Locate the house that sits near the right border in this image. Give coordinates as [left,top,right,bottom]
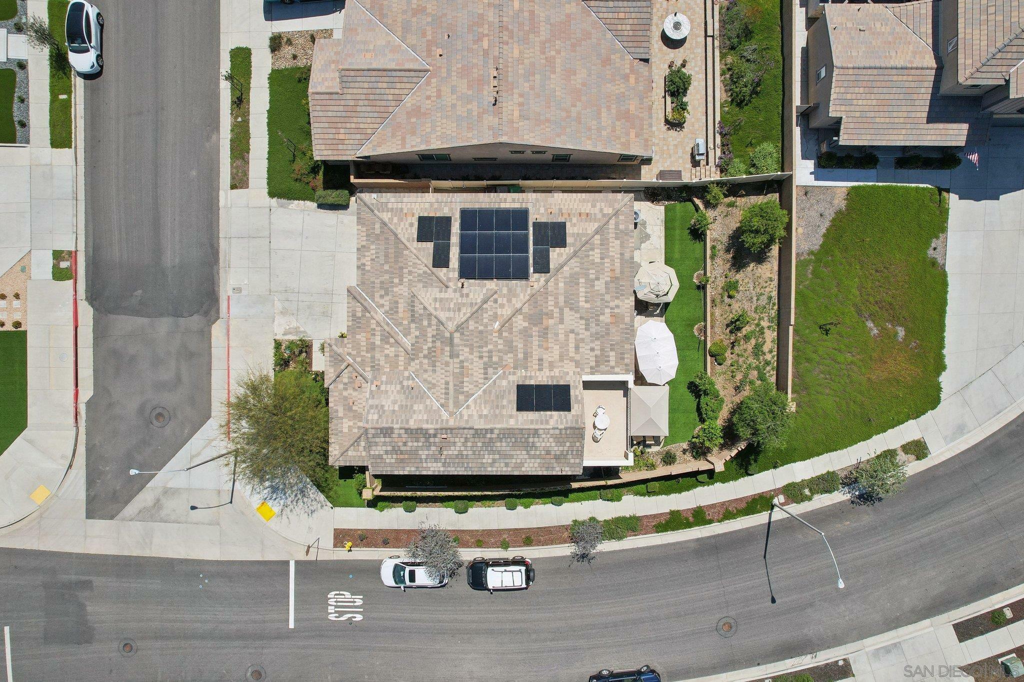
[800,0,1024,157]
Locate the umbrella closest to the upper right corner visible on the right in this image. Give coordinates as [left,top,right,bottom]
[635,261,680,303]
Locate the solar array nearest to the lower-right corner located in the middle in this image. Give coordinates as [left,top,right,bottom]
[516,384,572,411]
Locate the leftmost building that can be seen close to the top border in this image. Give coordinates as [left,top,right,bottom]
[308,0,658,166]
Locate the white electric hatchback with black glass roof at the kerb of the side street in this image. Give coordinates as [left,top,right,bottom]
[62,0,103,71]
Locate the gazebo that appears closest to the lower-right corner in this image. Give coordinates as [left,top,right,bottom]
[630,385,669,436]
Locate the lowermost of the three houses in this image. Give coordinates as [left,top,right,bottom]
[323,191,634,475]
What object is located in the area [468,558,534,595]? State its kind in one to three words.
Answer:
car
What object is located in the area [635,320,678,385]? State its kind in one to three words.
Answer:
umbrella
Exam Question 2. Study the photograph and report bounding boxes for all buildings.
[323,191,634,475]
[308,0,658,166]
[800,0,1024,157]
